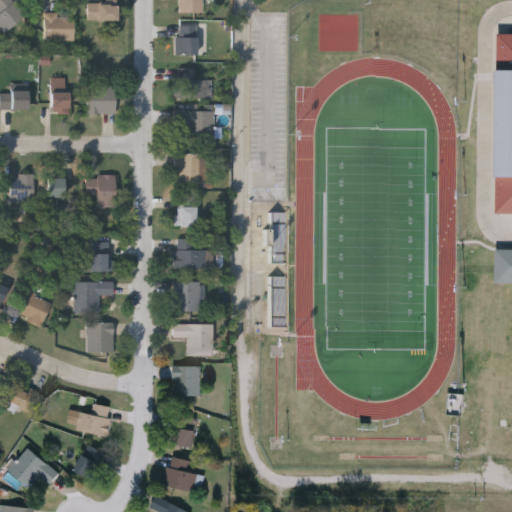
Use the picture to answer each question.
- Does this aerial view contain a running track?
Yes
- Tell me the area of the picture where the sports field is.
right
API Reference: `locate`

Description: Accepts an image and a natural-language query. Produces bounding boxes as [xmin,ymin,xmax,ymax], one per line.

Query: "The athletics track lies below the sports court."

[296,58,456,420]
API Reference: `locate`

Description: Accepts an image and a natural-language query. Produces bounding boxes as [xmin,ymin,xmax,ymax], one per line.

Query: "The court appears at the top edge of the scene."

[318,14,359,52]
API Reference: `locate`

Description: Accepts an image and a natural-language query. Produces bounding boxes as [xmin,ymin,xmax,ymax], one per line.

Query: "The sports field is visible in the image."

[314,76,438,401]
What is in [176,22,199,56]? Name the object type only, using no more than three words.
house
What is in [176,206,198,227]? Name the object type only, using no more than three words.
house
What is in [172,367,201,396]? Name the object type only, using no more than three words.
building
